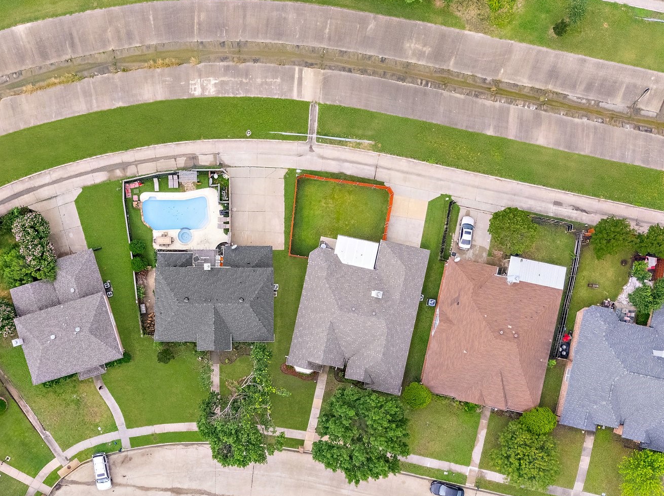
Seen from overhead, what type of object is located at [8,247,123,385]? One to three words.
house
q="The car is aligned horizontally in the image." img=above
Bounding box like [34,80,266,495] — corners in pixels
[429,480,465,496]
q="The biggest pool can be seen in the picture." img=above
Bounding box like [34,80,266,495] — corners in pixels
[134,187,230,250]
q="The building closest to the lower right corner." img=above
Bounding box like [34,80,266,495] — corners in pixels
[554,305,664,450]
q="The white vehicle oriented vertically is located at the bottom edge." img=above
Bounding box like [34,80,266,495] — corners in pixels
[92,452,113,490]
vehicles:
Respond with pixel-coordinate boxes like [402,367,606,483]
[92,452,113,490]
[457,216,475,250]
[429,480,465,496]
